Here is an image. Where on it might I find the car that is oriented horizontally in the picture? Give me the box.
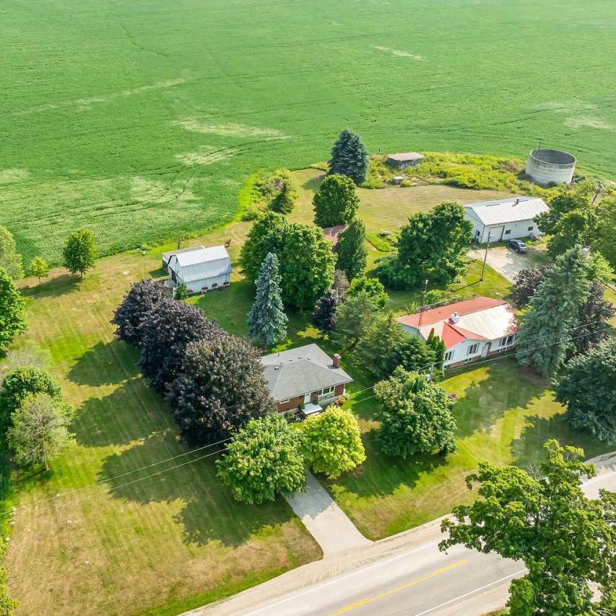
[504,241,533,254]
